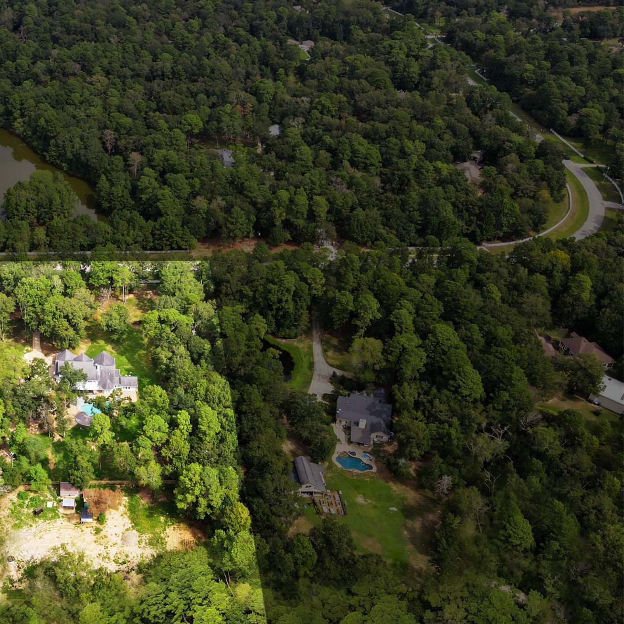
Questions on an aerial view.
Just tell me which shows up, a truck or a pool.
pool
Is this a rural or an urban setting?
rural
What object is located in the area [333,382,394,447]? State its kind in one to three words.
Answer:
house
